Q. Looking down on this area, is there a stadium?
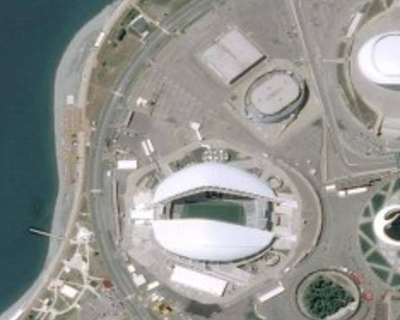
Yes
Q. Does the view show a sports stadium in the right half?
Yes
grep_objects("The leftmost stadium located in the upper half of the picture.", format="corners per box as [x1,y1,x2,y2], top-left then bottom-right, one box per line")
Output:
[243,68,310,122]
